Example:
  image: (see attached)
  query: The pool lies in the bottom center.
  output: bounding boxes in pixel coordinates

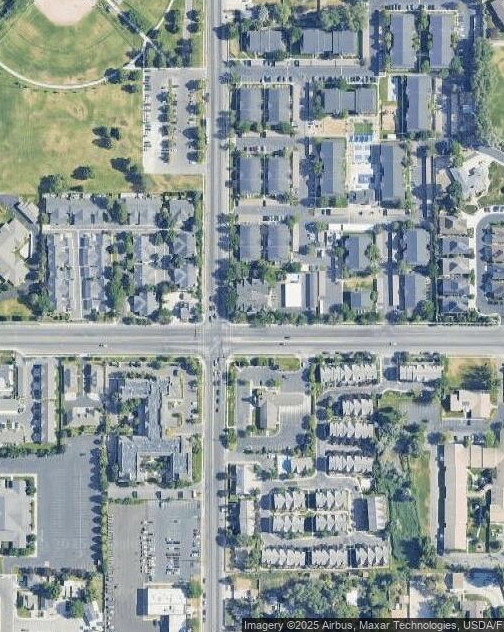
[278,457,291,473]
